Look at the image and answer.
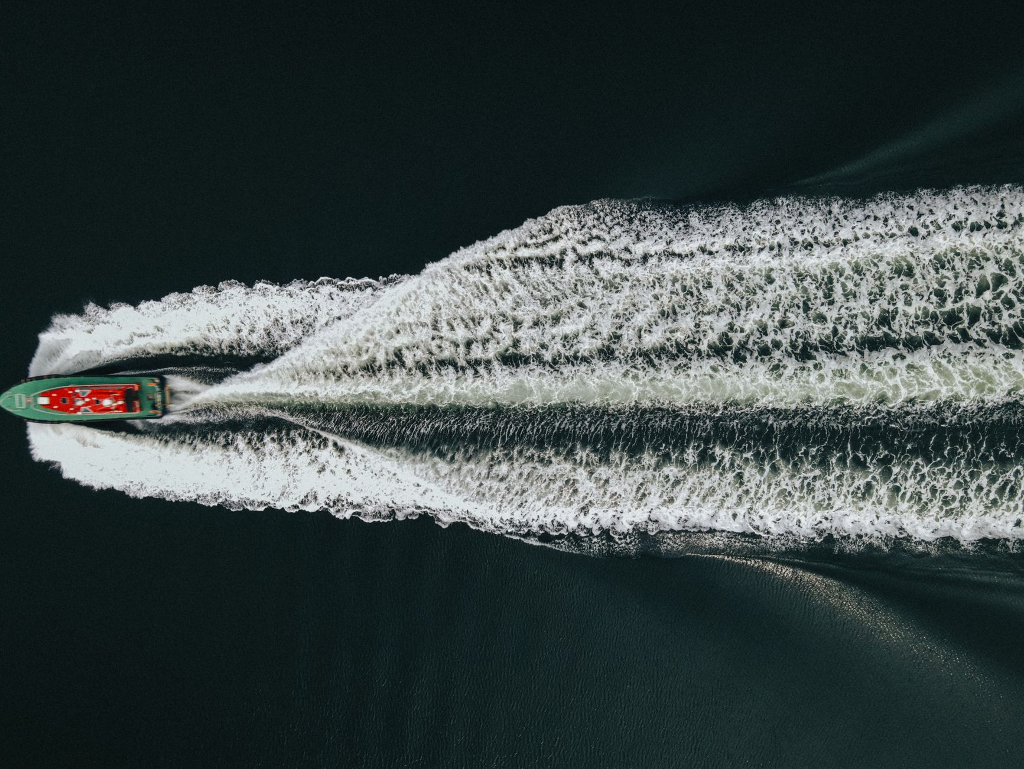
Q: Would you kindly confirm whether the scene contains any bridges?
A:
No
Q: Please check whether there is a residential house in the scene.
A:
No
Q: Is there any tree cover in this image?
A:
No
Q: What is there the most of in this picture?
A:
water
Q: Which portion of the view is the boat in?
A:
left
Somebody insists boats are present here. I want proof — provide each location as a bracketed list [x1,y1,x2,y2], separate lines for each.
[0,375,170,426]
